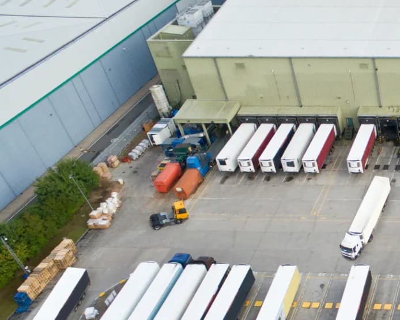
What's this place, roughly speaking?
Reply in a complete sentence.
It's an industrial area.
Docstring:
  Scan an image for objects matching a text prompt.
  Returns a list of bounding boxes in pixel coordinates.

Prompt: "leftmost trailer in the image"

[34,268,94,320]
